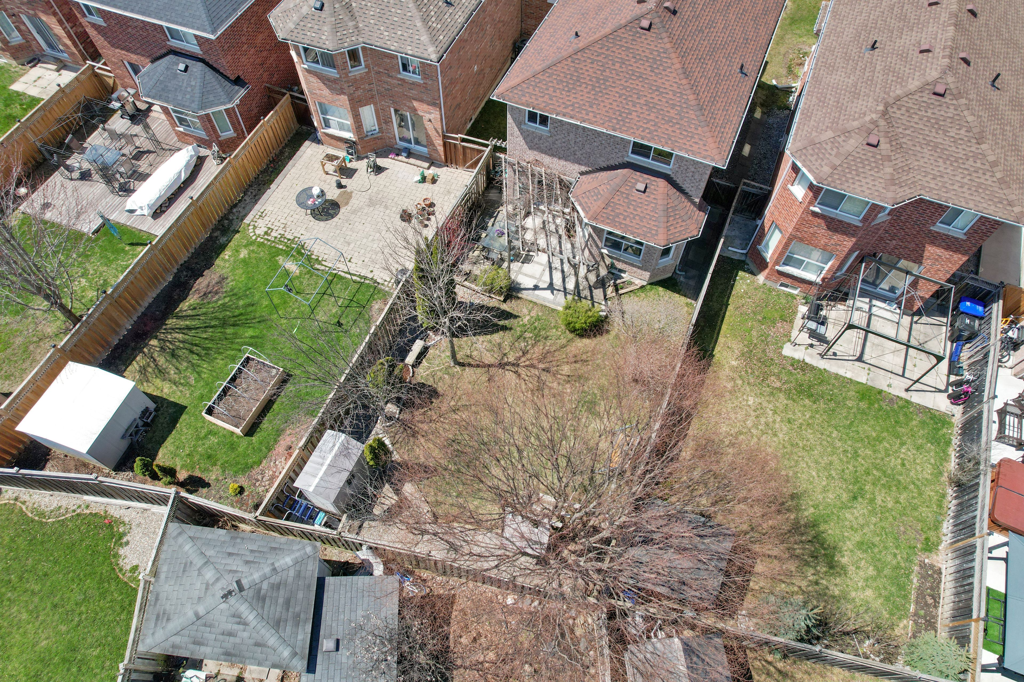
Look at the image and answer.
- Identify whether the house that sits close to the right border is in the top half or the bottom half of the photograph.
top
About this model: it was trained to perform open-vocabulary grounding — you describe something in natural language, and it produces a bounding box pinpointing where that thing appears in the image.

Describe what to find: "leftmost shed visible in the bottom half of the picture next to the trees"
[15,361,154,467]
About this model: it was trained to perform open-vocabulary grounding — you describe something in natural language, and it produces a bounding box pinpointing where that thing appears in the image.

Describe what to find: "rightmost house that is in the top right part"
[739,0,1024,312]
